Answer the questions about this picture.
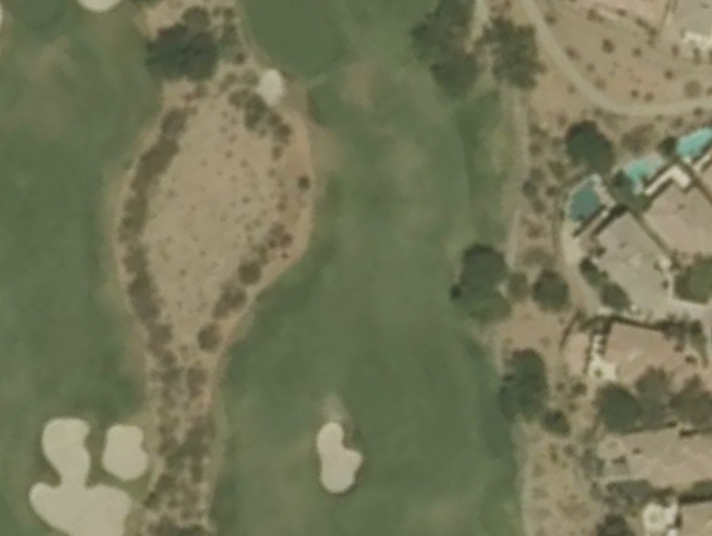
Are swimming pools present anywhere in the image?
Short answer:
Yes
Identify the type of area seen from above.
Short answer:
golf course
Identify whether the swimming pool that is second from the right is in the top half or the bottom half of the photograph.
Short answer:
top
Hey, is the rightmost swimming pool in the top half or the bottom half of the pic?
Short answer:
top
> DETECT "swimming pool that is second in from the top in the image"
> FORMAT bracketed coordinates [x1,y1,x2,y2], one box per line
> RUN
[624,152,667,192]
